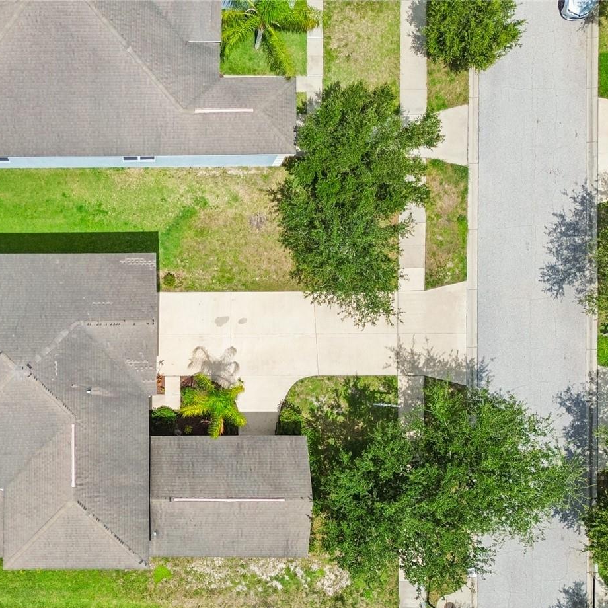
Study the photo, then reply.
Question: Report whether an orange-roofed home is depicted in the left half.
No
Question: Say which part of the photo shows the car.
top right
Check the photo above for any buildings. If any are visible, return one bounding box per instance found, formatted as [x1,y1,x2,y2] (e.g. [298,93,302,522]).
[0,0,296,168]
[0,253,315,571]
